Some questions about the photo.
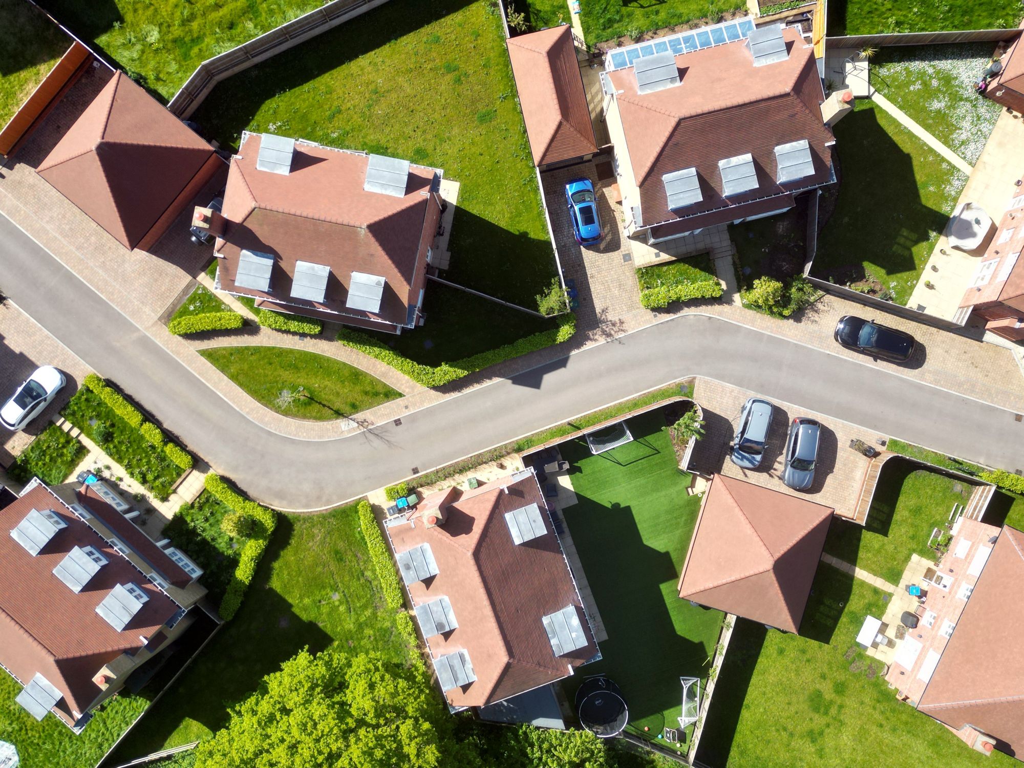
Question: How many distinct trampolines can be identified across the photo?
one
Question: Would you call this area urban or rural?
urban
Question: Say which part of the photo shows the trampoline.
bottom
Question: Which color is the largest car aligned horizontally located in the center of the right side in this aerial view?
black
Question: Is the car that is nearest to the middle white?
No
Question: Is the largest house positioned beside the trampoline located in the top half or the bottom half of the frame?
bottom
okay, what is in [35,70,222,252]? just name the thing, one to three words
building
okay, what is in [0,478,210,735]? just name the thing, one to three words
house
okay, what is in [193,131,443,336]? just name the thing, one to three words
house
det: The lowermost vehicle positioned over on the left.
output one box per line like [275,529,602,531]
[0,363,69,433]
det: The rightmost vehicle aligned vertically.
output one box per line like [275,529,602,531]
[780,416,820,491]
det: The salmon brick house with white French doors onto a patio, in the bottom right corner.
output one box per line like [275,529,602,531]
[886,519,1024,763]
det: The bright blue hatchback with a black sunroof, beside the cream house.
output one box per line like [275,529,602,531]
[564,178,600,249]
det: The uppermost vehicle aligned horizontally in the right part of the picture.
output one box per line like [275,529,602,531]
[831,318,914,360]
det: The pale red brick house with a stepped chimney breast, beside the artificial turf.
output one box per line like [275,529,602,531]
[383,468,601,713]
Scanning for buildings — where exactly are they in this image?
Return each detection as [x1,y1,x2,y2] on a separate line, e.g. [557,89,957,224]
[193,131,443,336]
[506,23,600,171]
[35,70,222,252]
[383,468,601,713]
[597,14,855,244]
[676,473,835,634]
[886,519,1024,763]
[981,1,1024,114]
[0,478,210,735]
[961,176,1024,348]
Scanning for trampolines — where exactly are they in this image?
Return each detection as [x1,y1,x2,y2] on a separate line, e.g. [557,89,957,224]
[575,663,628,734]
